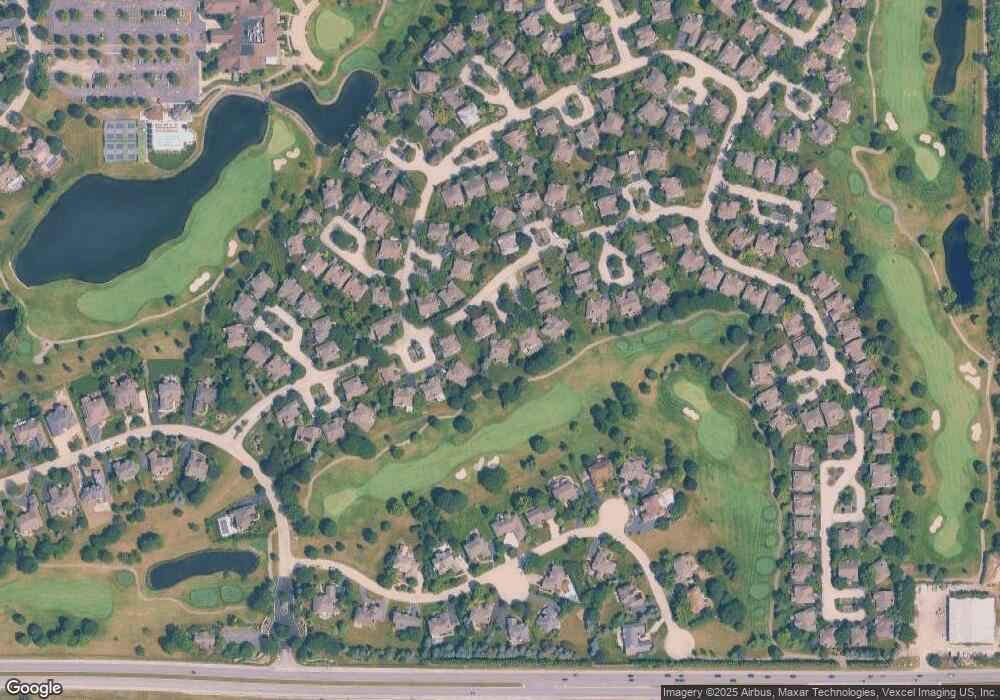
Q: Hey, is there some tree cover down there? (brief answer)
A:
Yes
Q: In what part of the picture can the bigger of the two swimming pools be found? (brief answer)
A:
top left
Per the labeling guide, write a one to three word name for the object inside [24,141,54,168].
house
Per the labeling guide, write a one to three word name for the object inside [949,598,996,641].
building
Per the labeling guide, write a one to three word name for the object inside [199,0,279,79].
building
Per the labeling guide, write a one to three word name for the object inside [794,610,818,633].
house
